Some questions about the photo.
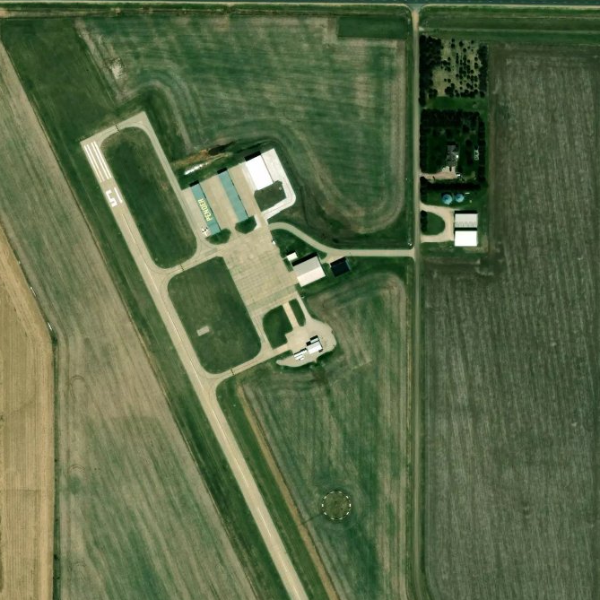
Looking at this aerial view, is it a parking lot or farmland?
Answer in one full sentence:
The picture captures farmland.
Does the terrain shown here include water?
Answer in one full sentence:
No, no water is visible.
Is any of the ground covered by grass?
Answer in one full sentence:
Yes, there's grass in this view.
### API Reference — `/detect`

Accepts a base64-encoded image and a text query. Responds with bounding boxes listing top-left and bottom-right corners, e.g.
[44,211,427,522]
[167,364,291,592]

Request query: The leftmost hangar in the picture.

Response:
[192,184,220,234]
